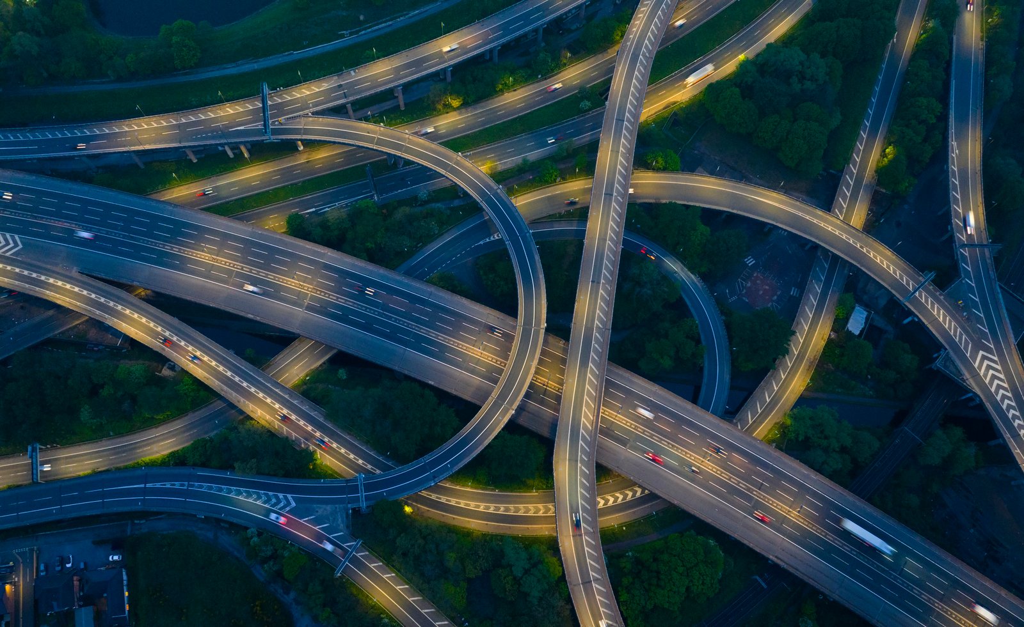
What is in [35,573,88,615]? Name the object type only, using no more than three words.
building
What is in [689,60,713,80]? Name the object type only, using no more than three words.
vehicle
